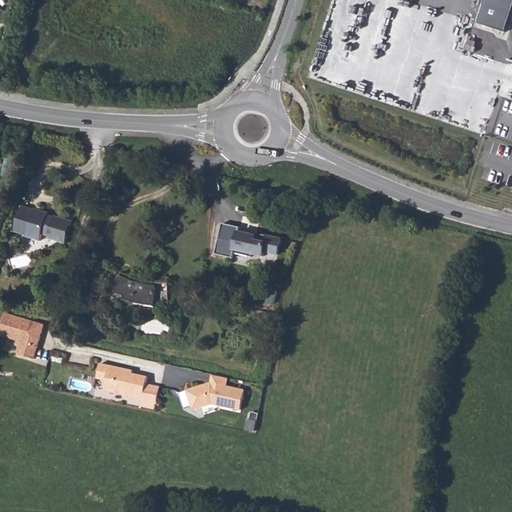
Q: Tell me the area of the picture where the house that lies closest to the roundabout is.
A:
center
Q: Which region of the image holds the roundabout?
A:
top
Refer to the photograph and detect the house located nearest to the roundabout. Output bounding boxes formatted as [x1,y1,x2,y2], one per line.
[214,222,282,257]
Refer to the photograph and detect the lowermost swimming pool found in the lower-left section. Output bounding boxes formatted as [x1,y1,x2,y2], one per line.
[66,376,96,394]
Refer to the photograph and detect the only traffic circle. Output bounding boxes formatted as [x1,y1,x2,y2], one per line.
[192,70,311,168]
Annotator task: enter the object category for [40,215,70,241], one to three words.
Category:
house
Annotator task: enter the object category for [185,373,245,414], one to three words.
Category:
house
